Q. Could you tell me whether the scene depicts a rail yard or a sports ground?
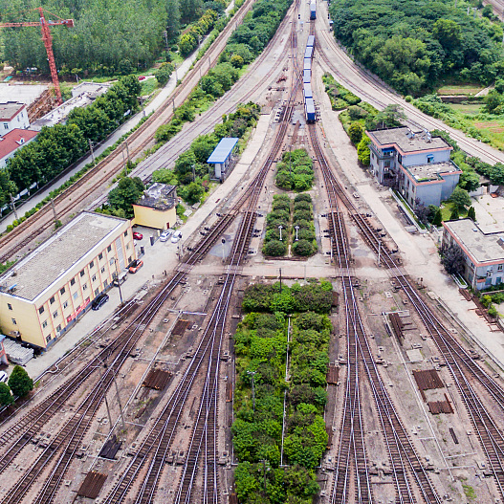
rail yard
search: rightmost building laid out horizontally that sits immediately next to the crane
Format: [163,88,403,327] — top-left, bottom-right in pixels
[73,82,113,100]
